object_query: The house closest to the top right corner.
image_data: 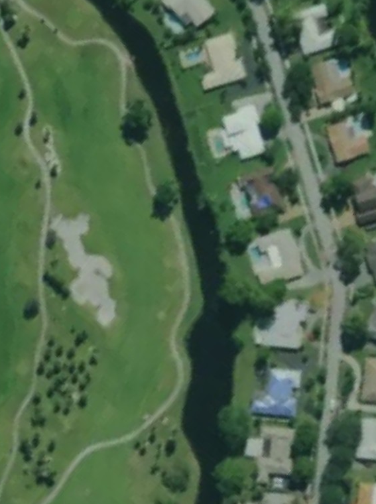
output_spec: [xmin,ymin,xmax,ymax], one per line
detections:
[295,0,336,56]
